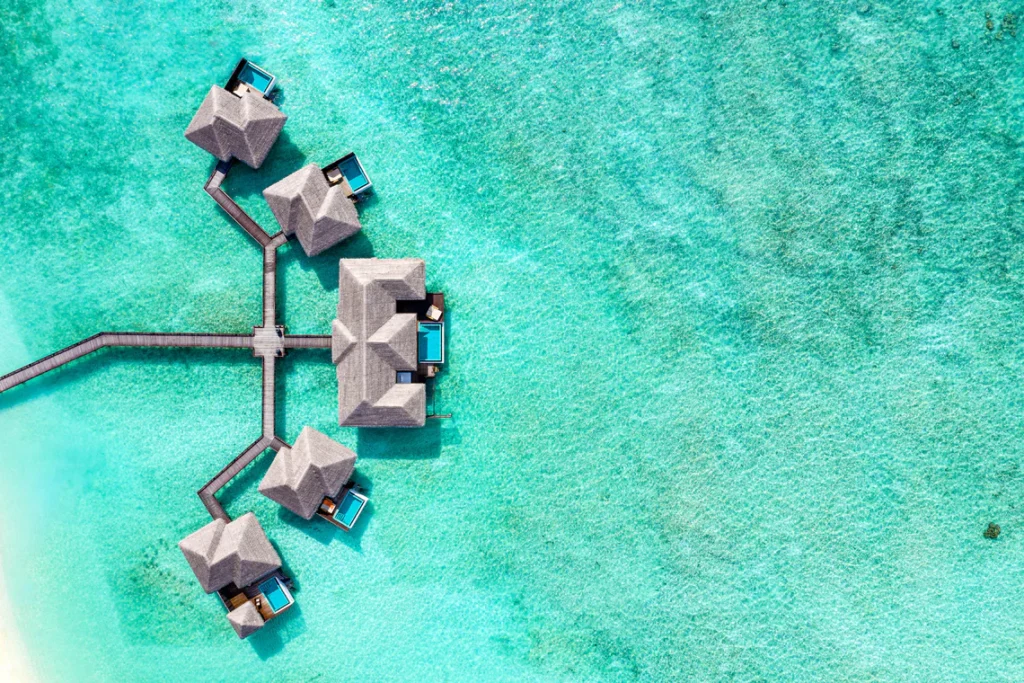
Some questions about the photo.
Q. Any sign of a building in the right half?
No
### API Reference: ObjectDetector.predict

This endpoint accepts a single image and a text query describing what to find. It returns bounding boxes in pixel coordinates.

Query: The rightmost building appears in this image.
[332,258,454,427]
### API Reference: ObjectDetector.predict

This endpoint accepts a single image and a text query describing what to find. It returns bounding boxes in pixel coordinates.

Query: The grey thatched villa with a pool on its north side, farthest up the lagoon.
[185,57,288,169]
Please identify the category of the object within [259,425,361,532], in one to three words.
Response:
house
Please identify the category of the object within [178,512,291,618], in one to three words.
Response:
house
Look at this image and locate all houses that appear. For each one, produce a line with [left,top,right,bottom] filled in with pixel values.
[263,151,364,257]
[185,57,288,169]
[178,512,291,618]
[332,258,454,427]
[259,425,361,532]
